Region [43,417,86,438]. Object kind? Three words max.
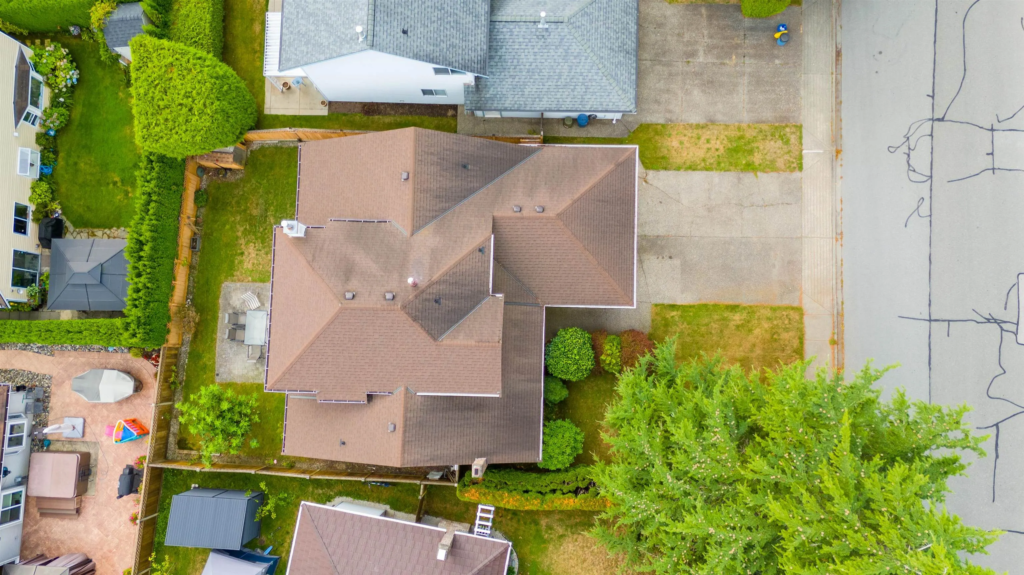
umbrella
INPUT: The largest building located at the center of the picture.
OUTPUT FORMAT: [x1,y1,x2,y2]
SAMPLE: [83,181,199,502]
[263,127,641,482]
